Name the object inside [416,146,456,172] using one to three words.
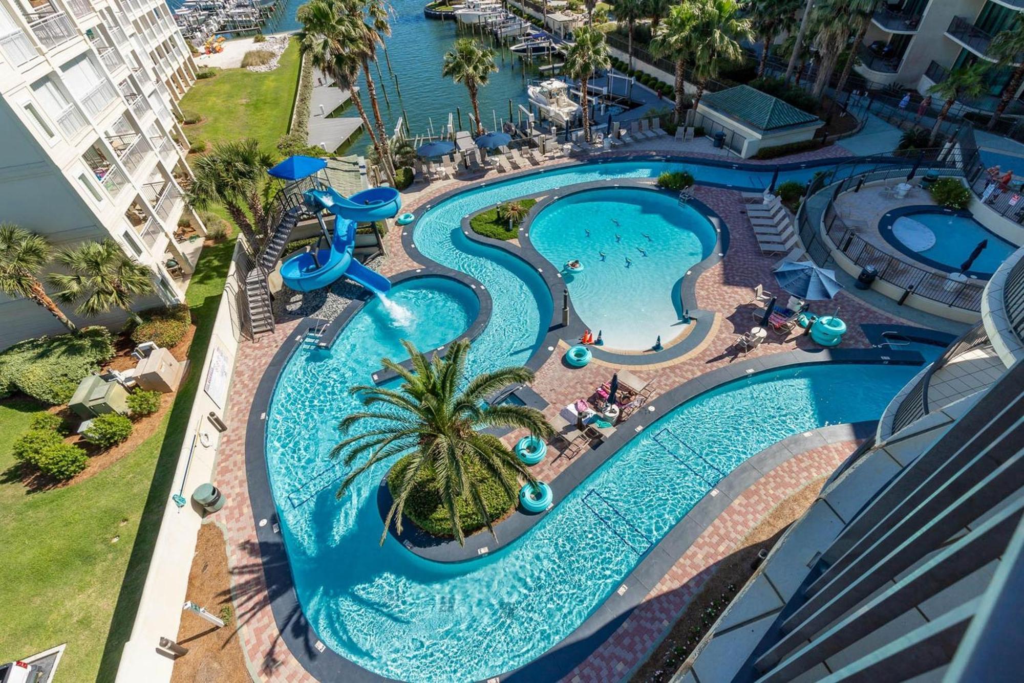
umbrella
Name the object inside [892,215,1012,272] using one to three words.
swimming pool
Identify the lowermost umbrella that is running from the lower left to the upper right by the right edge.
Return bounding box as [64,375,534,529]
[961,242,989,278]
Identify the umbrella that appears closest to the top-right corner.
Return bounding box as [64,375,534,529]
[905,156,923,189]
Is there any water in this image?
Yes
